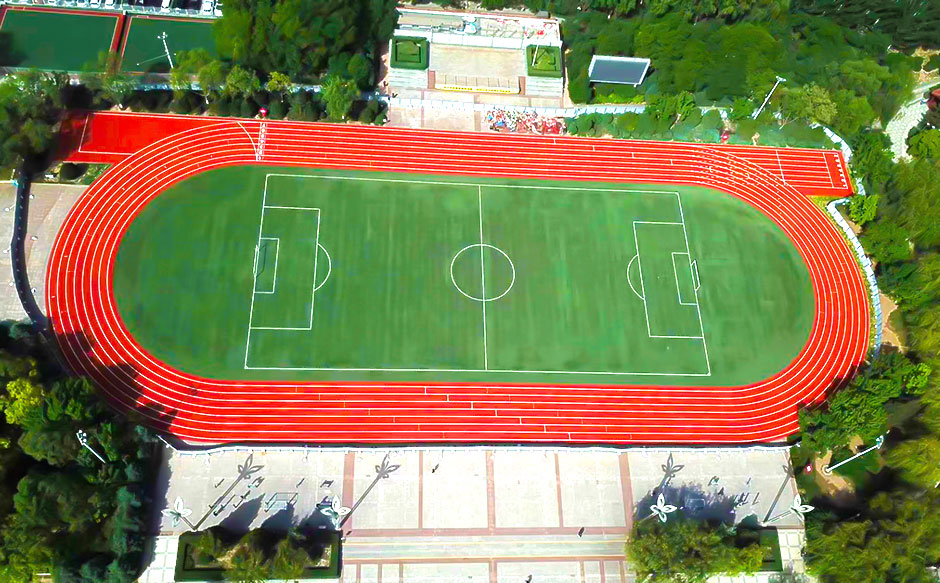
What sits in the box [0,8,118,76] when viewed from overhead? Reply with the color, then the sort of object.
green sports court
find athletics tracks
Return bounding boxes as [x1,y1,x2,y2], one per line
[37,110,869,445]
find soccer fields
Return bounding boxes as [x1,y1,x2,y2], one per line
[114,165,815,387]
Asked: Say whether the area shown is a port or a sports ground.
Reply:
sports ground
